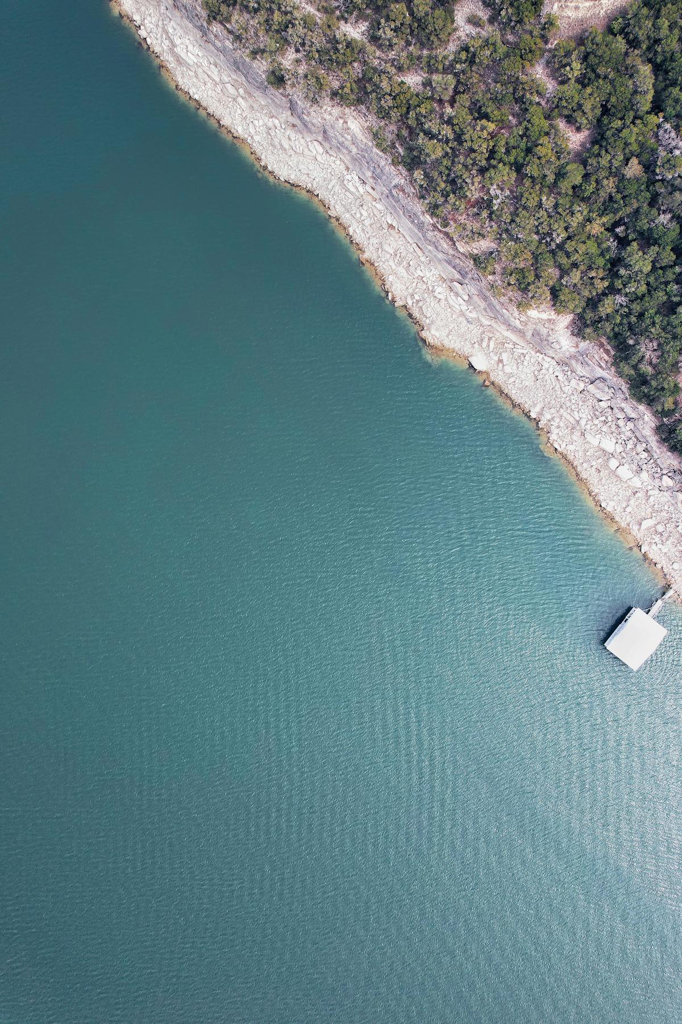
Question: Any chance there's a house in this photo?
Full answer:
No, I can see no house in this picture.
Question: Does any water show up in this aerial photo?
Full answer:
Yes, water can be seen from above here.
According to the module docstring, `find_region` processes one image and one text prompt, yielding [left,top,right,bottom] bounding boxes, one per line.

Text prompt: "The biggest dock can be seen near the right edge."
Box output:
[604,607,667,670]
